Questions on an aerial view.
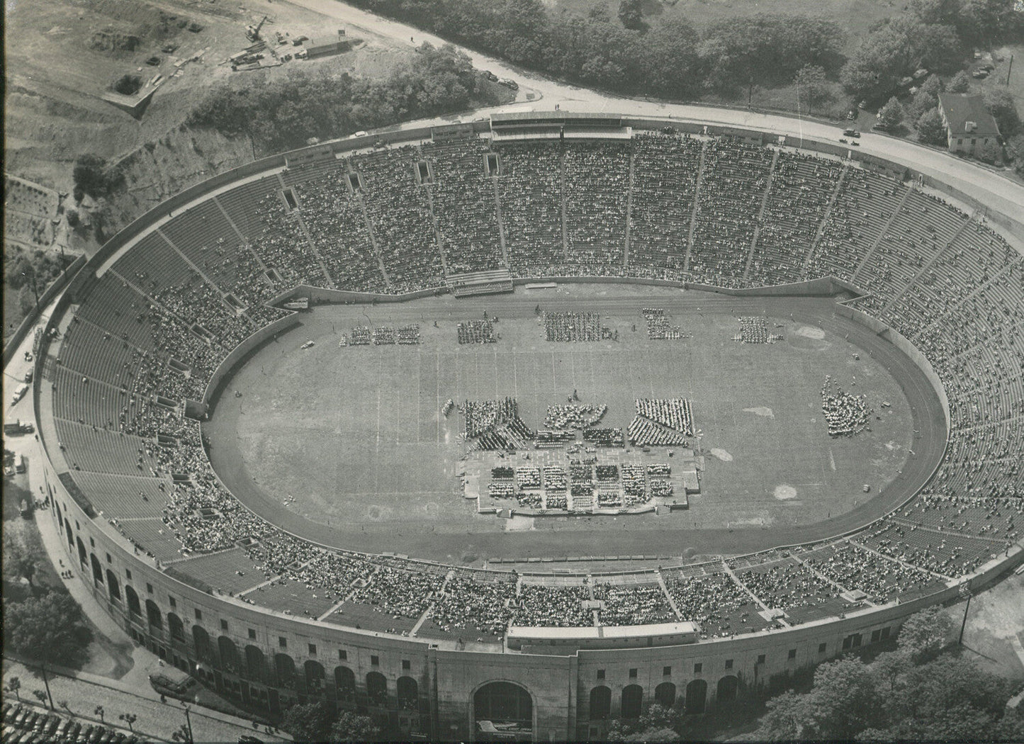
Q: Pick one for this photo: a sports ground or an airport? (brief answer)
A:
sports ground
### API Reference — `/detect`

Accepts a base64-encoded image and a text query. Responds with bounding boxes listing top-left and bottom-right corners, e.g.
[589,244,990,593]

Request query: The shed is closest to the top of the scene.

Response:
[301,29,356,61]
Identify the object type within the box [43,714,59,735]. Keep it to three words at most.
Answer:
car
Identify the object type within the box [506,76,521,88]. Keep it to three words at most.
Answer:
vehicle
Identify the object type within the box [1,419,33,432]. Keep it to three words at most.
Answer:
vehicle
